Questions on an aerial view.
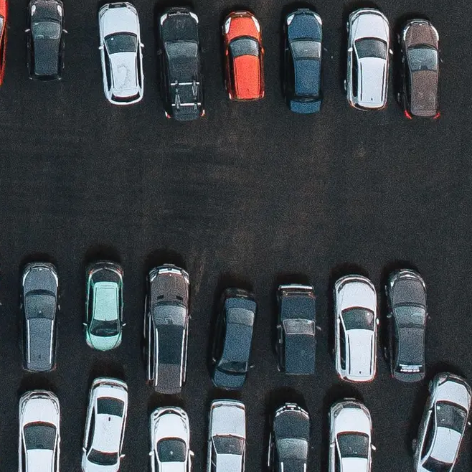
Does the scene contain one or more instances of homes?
No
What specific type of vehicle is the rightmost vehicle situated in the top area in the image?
automobile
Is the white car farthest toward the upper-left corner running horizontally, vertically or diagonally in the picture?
vertically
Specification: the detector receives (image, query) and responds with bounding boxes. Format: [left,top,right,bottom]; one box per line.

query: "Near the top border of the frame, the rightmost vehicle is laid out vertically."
[397,20,446,118]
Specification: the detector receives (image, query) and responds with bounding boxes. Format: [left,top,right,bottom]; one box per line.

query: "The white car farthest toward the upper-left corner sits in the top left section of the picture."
[96,2,146,103]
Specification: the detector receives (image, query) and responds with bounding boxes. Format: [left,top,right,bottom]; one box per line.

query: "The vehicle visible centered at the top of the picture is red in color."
[221,11,268,100]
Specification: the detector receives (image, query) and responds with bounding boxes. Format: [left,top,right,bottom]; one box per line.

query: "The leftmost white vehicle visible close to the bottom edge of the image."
[15,388,64,472]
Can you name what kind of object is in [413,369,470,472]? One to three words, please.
car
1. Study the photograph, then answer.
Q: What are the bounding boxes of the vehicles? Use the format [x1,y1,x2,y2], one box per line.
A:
[281,8,330,112]
[0,0,11,85]
[413,369,470,472]
[221,11,268,100]
[332,274,383,381]
[276,285,323,381]
[15,388,64,472]
[210,286,259,385]
[268,400,316,472]
[205,396,251,472]
[344,8,396,109]
[397,20,446,118]
[158,7,209,122]
[17,260,63,369]
[96,2,146,103]
[81,374,130,472]
[83,257,129,349]
[327,398,378,472]
[25,0,68,85]
[144,263,196,392]
[383,268,433,381]
[147,404,195,472]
